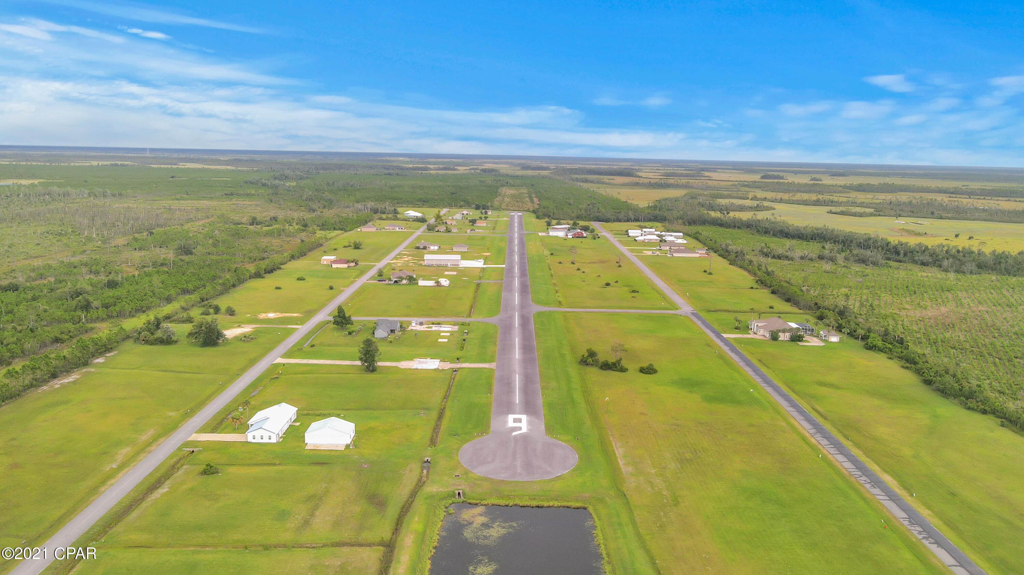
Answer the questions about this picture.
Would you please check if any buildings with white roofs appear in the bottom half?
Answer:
Yes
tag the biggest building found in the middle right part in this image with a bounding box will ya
[745,320,803,341]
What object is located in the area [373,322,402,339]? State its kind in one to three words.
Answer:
house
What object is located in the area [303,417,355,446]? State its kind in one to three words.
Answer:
hangar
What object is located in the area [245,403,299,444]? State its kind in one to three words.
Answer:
house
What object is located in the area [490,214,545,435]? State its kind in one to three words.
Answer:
runway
